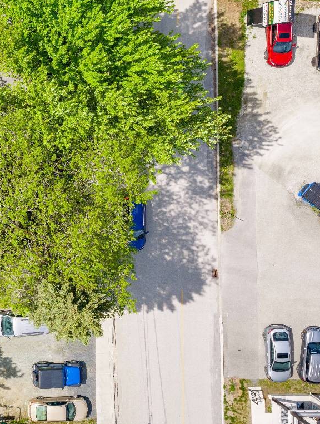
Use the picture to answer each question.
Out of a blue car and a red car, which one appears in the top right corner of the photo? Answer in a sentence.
It is a red car that can be seen in the top right corner of the photo.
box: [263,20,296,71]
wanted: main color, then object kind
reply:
red car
